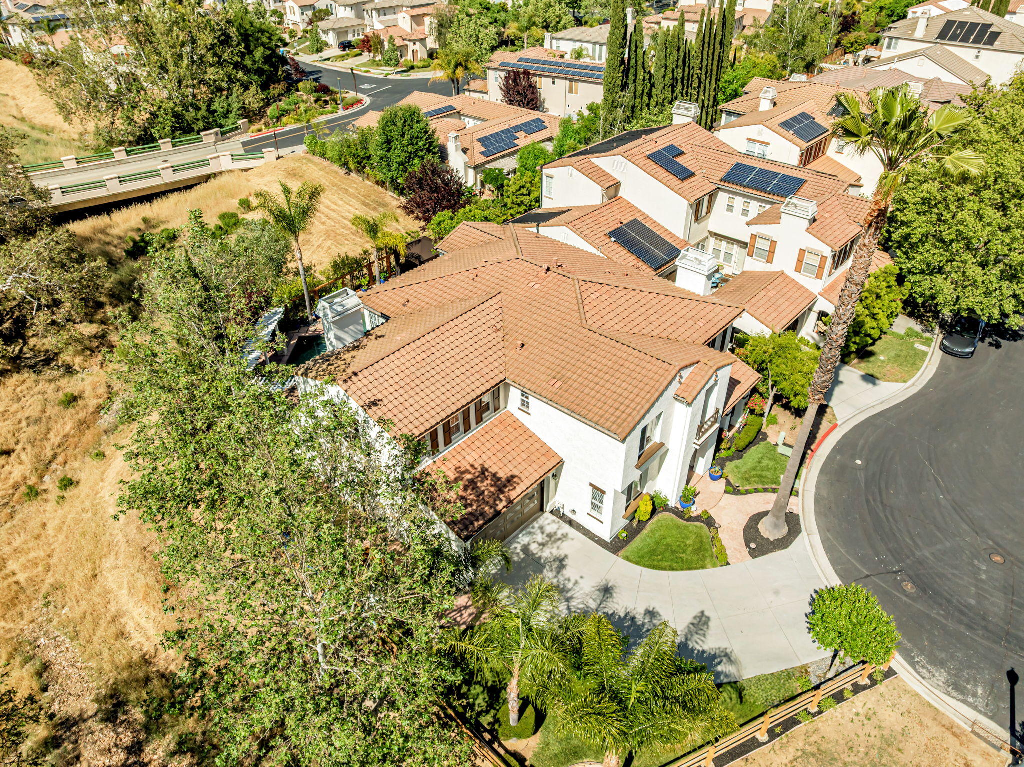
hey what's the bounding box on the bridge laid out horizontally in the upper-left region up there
[15,126,274,214]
